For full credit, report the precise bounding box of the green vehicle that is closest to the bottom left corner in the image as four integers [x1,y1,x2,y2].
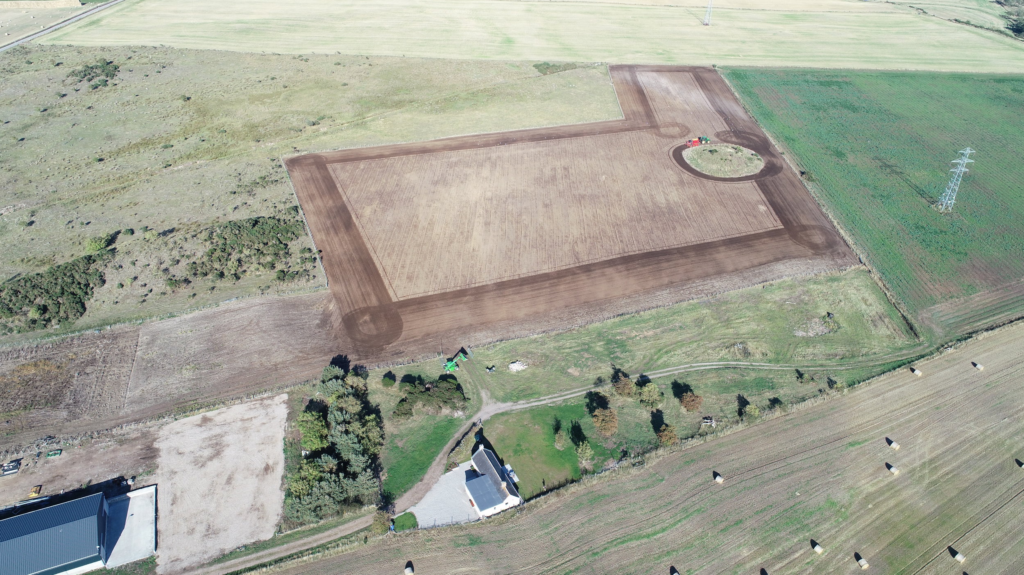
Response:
[442,352,470,374]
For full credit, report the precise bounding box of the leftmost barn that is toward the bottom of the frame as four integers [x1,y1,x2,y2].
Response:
[0,492,111,575]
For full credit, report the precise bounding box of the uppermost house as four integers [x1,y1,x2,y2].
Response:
[464,444,520,519]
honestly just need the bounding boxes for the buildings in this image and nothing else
[0,492,111,575]
[464,444,520,519]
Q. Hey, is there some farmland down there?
Yes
